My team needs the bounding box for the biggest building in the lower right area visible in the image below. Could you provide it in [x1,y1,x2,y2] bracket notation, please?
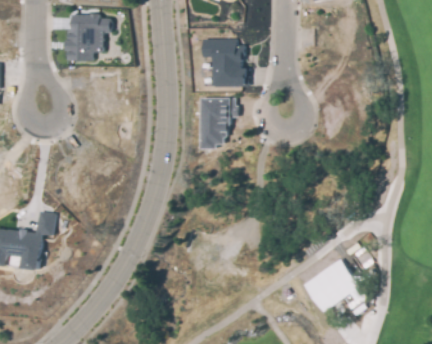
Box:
[304,260,368,313]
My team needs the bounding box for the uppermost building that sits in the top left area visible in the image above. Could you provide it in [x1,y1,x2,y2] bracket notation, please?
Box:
[63,14,110,60]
